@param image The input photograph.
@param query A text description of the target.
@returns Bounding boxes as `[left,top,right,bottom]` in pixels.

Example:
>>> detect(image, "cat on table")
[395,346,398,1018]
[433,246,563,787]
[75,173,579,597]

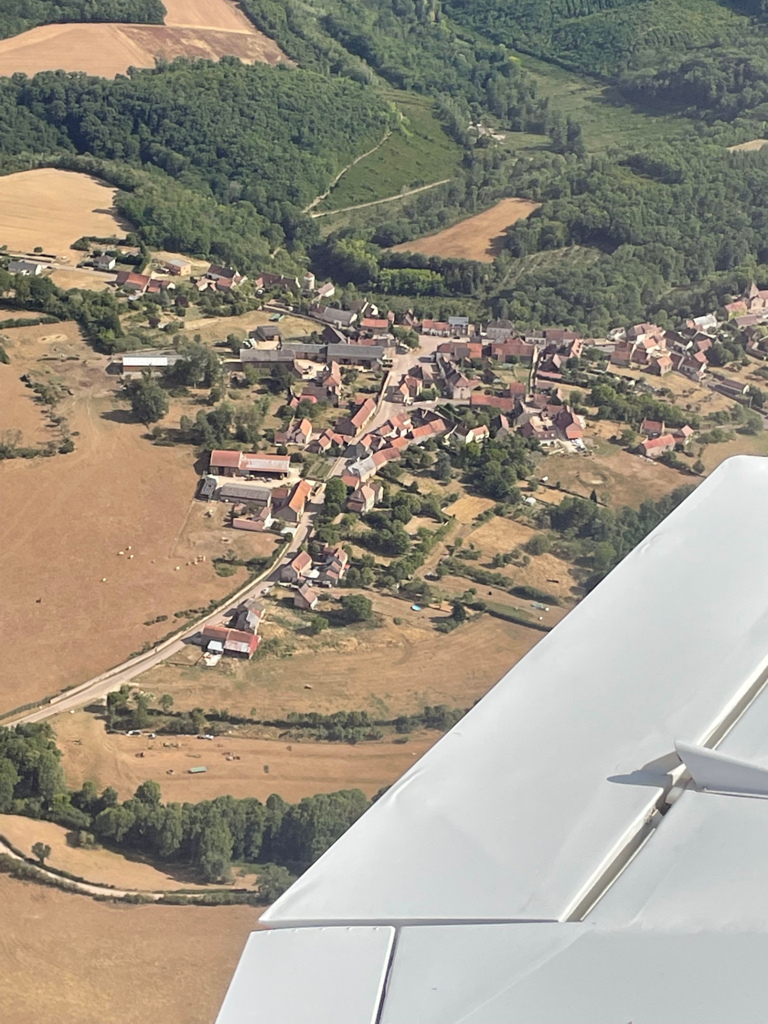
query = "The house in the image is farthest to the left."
[7,262,41,275]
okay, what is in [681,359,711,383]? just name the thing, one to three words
house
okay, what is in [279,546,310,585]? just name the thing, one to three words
house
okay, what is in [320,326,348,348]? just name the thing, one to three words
barn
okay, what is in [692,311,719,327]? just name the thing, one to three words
barn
